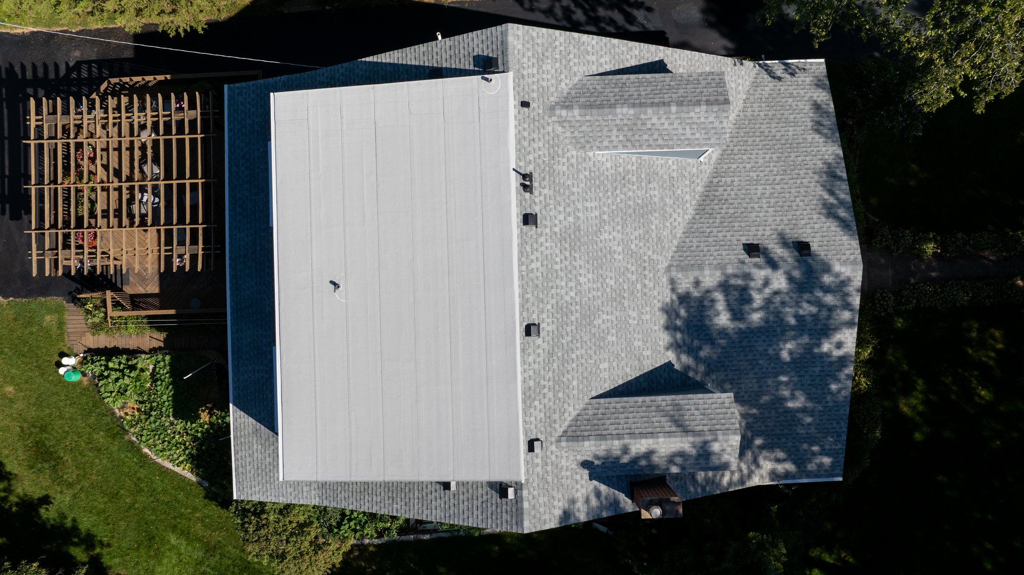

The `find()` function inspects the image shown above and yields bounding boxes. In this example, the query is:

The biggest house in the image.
[221,23,861,533]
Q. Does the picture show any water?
No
